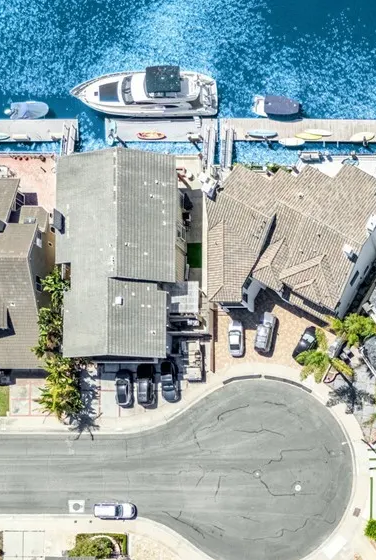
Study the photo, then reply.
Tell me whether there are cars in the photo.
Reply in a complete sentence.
Yes, a car can be made out from above.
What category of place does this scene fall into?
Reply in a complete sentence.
What you see here is a residential area.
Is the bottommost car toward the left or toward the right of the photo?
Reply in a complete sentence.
It is on the left.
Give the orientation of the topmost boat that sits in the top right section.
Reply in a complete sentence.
The topmost boat that sits in the top right section has been laid out from left to right relative to the frame.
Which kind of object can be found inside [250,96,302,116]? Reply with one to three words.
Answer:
boat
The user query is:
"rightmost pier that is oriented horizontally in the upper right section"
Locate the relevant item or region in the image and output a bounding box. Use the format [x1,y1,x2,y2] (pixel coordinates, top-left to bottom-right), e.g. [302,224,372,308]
[220,119,376,143]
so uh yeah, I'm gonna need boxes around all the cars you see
[254,312,279,355]
[160,361,181,401]
[96,500,138,520]
[290,324,318,362]
[114,370,135,406]
[226,318,247,358]
[134,364,157,405]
